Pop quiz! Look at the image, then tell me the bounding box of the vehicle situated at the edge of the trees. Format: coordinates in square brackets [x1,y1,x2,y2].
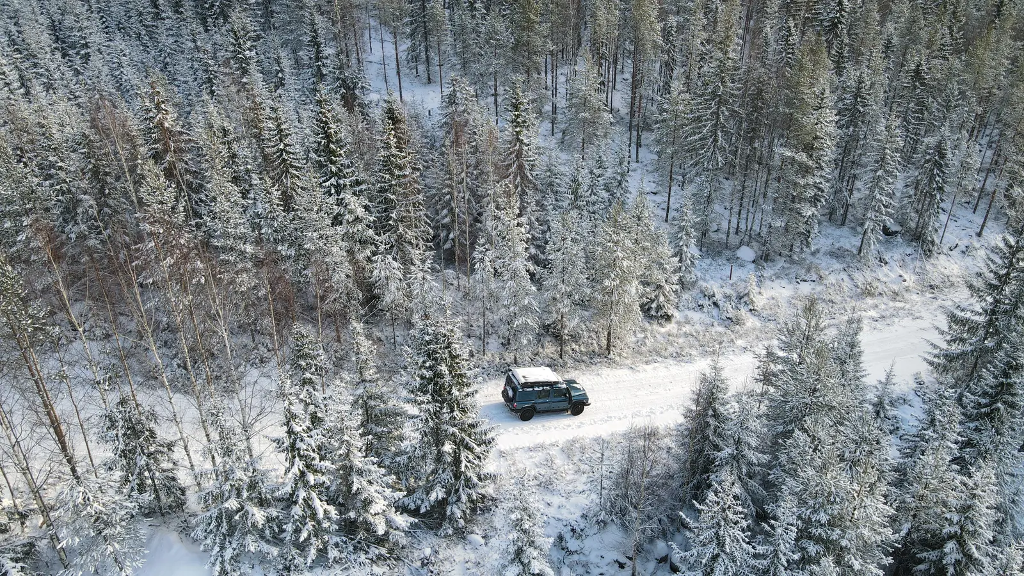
[503,368,594,422]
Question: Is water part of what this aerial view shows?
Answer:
No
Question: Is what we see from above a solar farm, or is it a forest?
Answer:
forest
